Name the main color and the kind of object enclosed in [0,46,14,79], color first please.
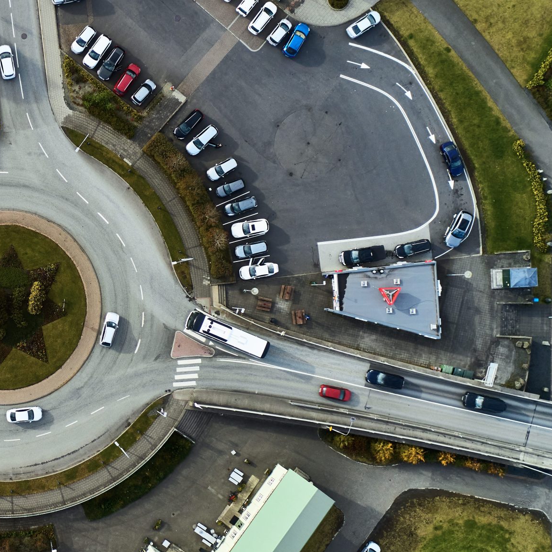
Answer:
white car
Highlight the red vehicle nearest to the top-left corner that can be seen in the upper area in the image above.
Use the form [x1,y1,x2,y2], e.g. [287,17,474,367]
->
[114,64,139,95]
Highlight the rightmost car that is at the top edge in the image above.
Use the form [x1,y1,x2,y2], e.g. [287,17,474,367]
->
[346,11,379,38]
